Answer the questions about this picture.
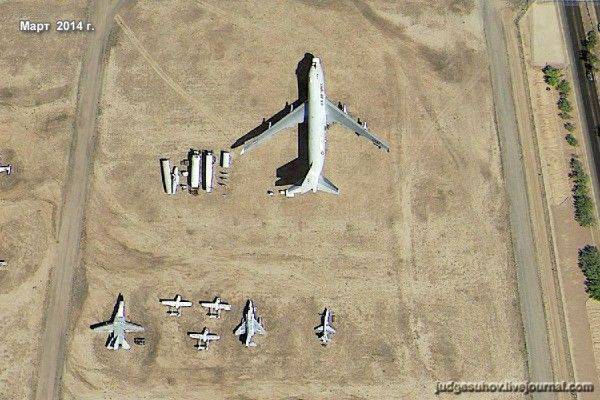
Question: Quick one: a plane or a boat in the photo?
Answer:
plane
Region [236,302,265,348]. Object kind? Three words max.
airplane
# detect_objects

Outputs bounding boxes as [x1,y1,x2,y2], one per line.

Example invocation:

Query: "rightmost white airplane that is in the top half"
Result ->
[241,57,390,194]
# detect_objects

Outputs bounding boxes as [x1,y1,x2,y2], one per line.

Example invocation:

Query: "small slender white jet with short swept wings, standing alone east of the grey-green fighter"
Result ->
[315,309,336,345]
